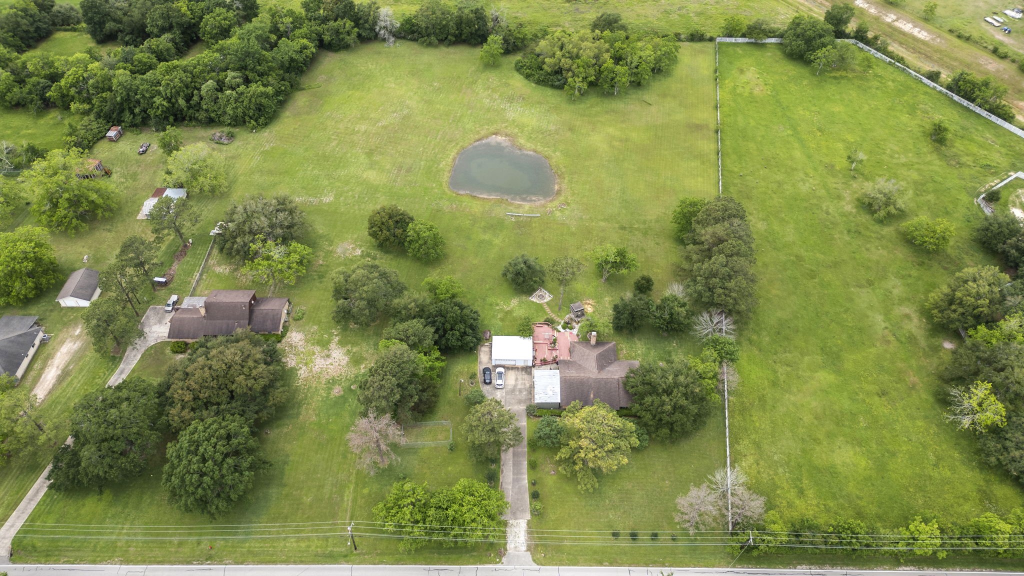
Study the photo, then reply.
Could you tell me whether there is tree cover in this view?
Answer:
Yes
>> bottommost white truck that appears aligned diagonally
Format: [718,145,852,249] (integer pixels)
[160,291,181,314]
